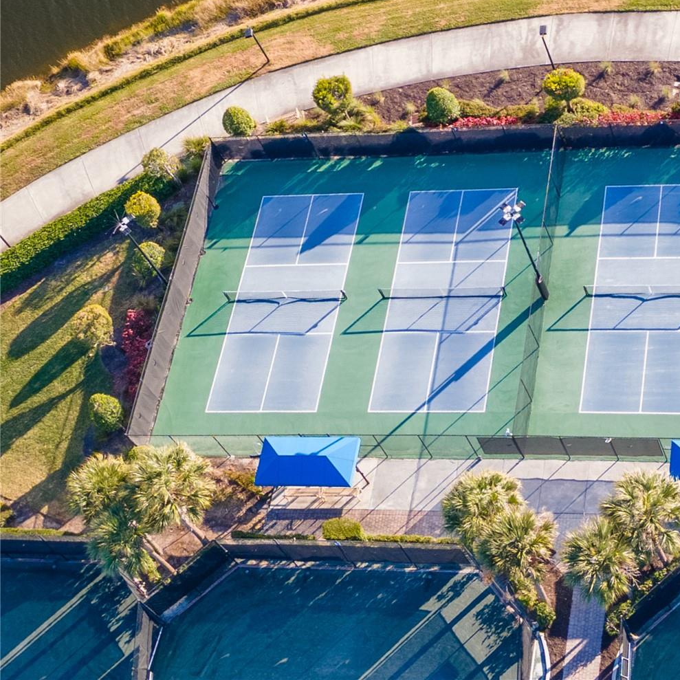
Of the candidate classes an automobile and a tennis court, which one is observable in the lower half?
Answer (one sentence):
The feature located in the lower half is a tennis court.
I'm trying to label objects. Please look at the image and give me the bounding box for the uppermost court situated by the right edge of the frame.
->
[579,185,680,414]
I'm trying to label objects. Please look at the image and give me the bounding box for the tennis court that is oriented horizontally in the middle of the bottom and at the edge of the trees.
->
[154,565,526,680]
